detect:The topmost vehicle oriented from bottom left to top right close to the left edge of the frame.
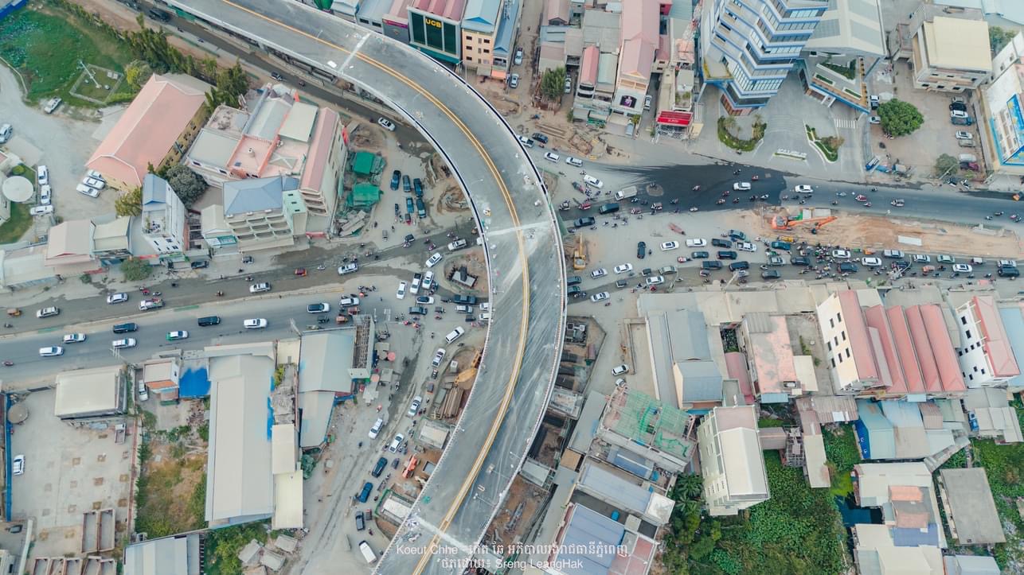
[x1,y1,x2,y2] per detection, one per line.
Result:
[43,97,64,114]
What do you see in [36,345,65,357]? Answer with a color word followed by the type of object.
white vehicle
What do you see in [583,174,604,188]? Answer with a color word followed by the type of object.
white car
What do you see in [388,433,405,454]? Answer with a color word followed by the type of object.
white car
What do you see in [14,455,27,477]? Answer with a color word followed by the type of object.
white vehicle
